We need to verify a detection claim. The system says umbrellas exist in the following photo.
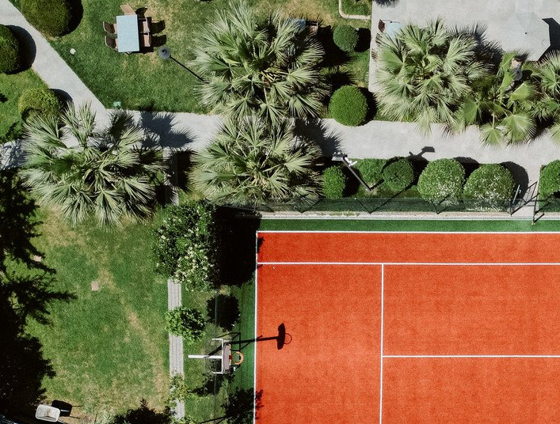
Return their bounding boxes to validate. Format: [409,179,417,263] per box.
[502,11,550,59]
